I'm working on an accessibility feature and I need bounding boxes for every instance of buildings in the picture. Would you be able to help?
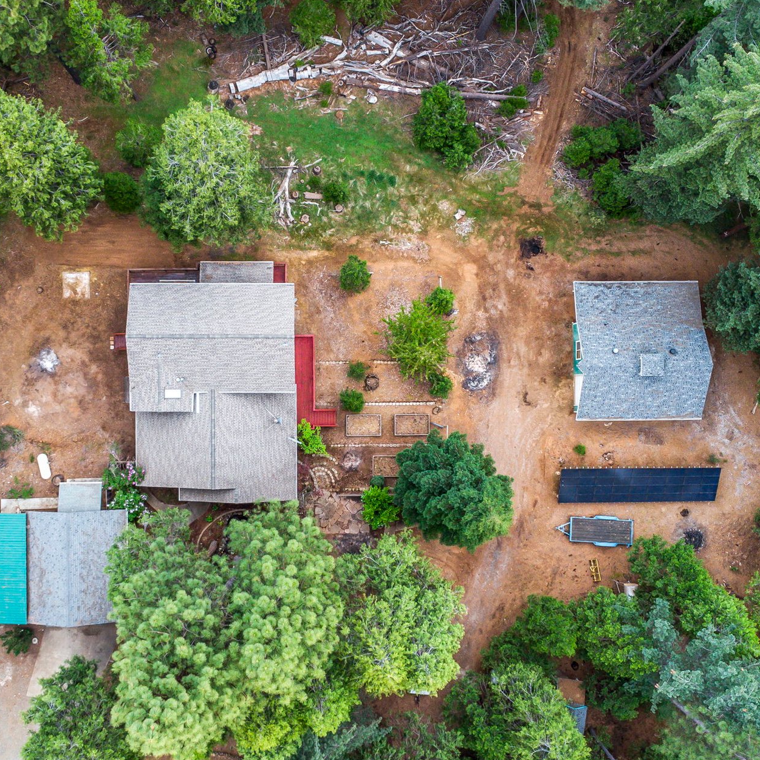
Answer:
[571,280,717,422]
[27,510,129,628]
[124,262,301,504]
[557,679,588,737]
